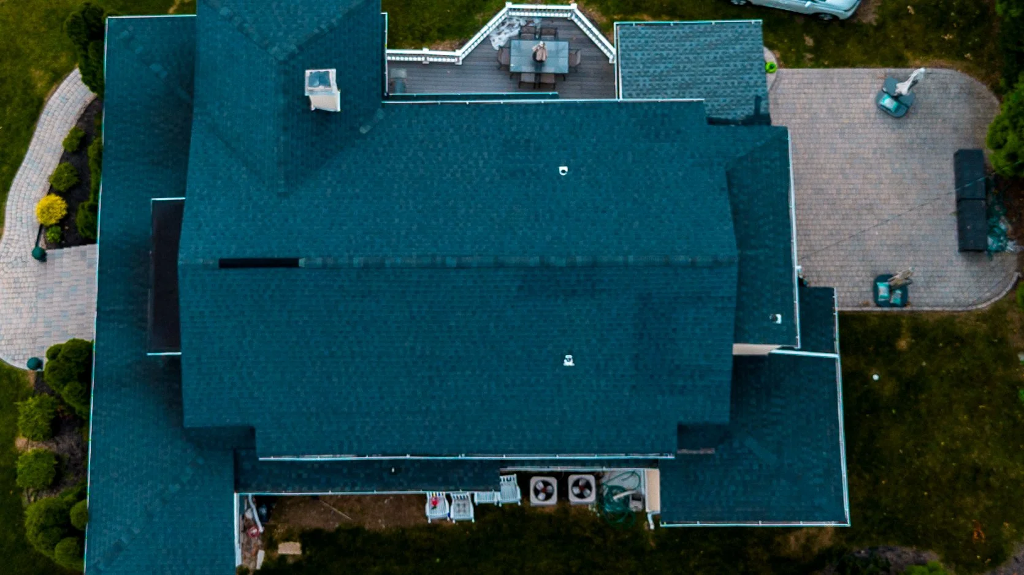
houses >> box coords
[83,0,851,575]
